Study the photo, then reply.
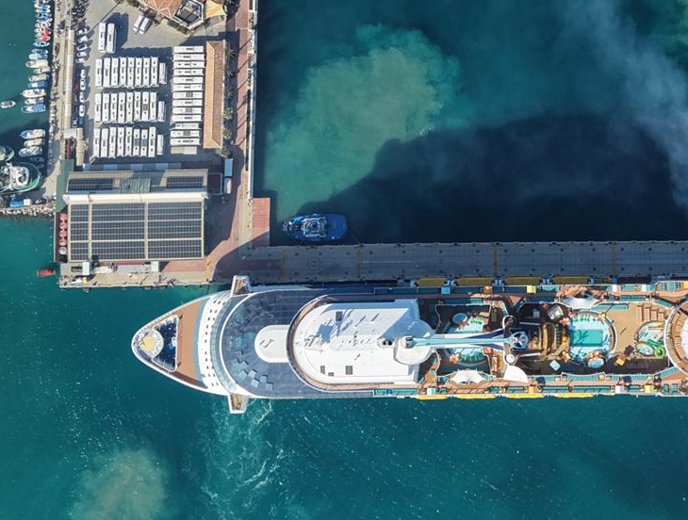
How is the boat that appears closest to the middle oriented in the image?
horizontally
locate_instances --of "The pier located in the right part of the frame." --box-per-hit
[271,240,688,283]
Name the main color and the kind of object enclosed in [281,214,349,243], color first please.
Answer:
blue boat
